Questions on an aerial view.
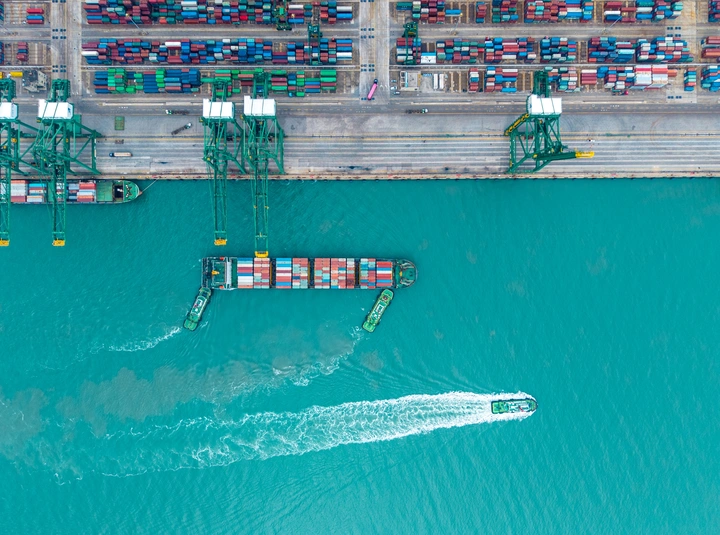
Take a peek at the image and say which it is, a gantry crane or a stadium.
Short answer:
gantry crane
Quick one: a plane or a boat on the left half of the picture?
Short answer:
boat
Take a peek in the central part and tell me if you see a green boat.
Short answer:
Yes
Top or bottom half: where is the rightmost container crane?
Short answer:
top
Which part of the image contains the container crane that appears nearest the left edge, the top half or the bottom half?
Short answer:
top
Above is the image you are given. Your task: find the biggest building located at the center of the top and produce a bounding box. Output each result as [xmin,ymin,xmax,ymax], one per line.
[400,69,421,91]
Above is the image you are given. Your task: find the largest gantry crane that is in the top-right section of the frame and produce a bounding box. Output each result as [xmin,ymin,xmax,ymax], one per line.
[503,70,593,174]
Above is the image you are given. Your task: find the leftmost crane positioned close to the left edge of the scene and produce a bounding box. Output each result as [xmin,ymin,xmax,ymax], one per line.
[0,72,55,248]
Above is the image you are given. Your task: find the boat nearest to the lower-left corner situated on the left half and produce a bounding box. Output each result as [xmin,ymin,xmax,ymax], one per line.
[184,288,212,331]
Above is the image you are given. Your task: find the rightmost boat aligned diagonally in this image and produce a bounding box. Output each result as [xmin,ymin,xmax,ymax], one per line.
[364,290,394,331]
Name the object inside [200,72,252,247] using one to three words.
container crane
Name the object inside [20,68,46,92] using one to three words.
building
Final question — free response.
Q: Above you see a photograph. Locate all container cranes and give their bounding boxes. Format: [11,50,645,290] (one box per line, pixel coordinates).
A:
[273,0,292,31]
[306,22,323,66]
[503,70,593,174]
[242,70,288,259]
[200,72,252,247]
[0,72,55,248]
[400,22,418,66]
[30,72,105,248]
